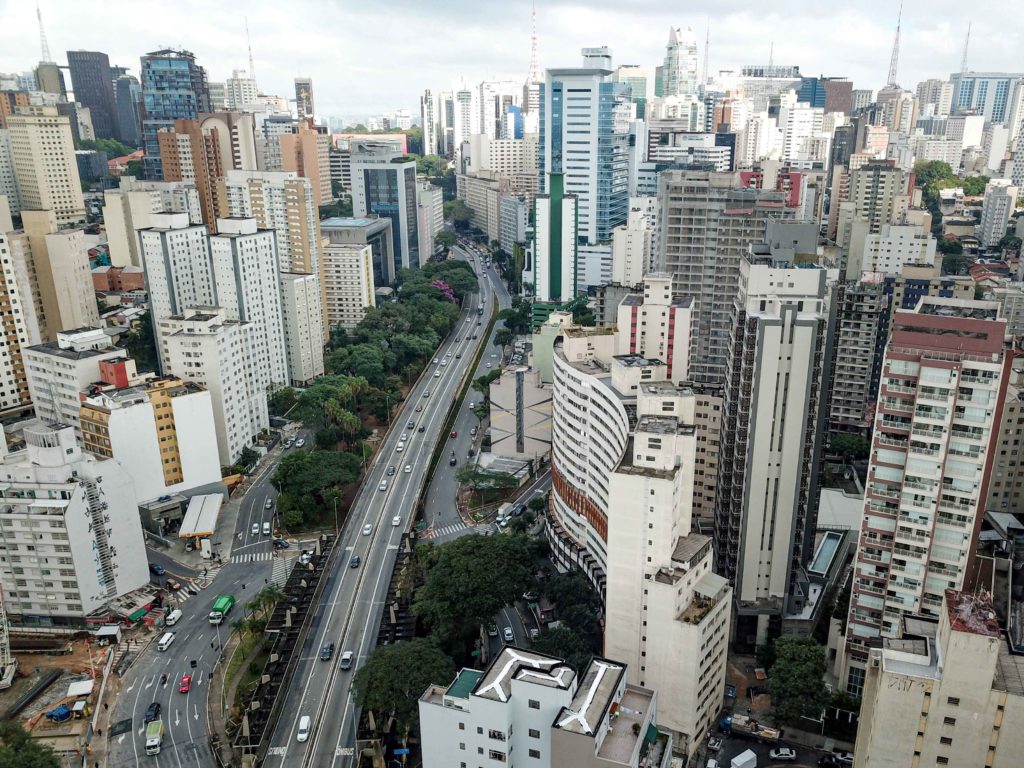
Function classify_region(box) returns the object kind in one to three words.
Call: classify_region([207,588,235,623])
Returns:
truck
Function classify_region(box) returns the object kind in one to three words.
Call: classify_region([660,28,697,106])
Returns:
building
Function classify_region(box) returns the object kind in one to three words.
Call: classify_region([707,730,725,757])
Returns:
vehicle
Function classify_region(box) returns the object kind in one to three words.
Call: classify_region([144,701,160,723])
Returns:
car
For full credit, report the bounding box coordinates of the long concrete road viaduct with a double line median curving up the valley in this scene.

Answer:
[253,291,496,768]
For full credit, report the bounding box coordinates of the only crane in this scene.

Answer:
[0,605,33,703]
